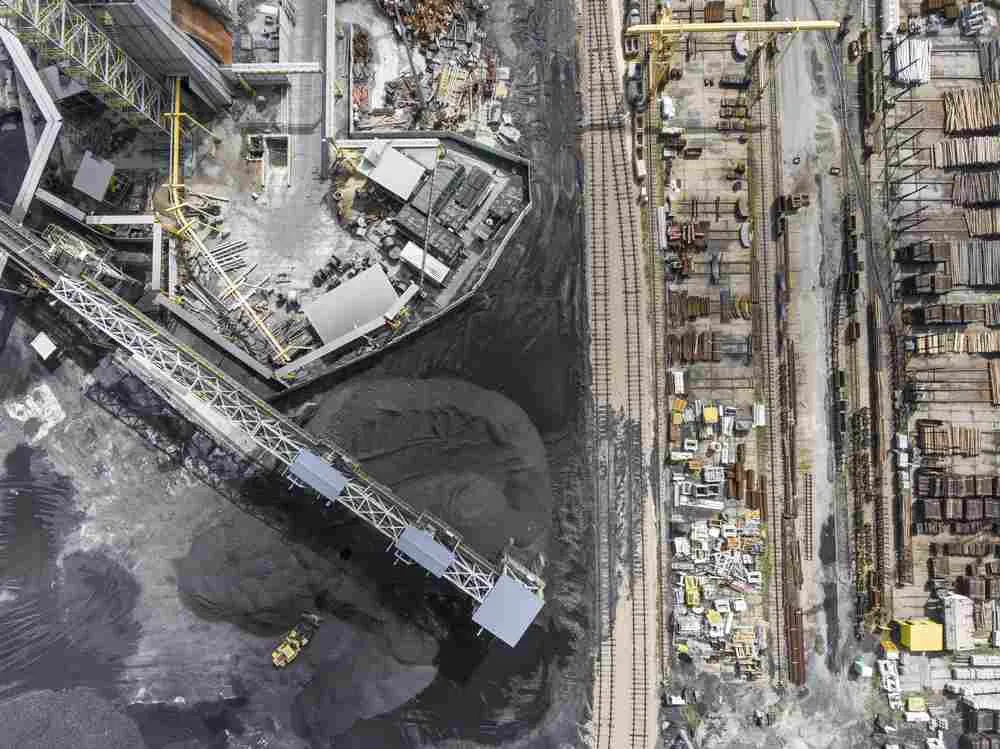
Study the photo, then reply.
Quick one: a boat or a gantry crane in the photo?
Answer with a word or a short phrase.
gantry crane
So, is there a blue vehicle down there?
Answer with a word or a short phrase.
No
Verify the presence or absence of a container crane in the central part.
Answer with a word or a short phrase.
No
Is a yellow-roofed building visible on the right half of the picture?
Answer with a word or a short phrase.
Yes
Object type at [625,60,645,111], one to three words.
vehicle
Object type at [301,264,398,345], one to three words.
building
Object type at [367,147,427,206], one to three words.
shed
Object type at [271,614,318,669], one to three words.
work vehicle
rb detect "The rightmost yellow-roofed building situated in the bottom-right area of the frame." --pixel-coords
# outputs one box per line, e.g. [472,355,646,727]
[900,618,943,651]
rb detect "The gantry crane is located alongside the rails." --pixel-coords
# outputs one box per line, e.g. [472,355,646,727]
[621,18,845,98]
